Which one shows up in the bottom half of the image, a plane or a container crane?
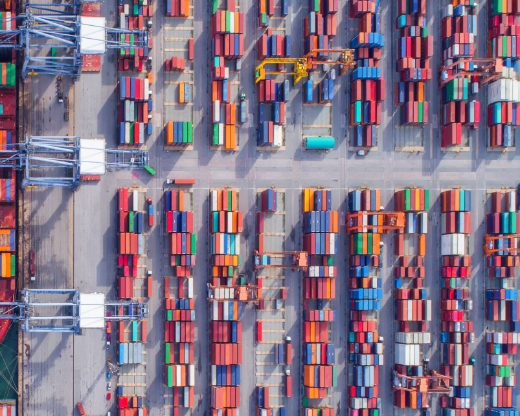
container crane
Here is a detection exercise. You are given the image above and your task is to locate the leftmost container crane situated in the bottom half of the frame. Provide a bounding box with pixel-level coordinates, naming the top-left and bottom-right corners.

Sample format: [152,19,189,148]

[0,285,149,336]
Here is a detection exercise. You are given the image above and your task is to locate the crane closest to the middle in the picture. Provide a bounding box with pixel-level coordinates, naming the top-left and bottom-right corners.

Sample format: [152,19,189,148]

[253,249,307,273]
